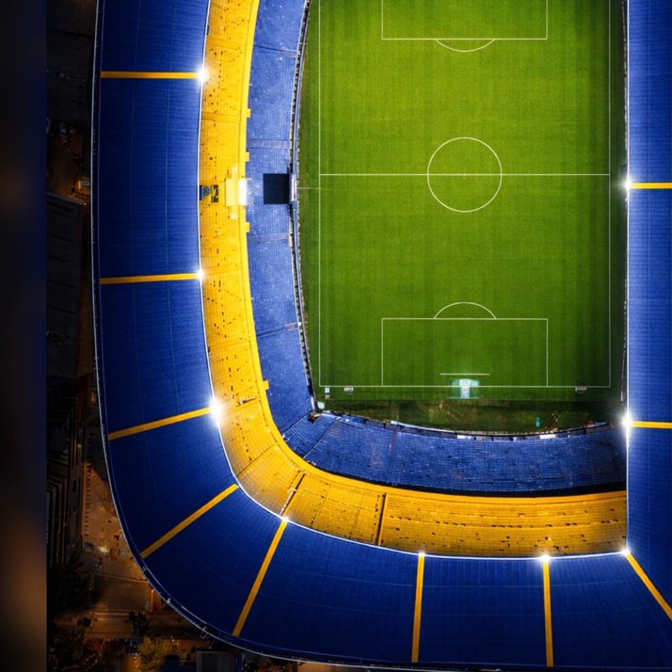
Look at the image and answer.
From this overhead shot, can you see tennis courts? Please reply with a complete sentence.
No, I can't see a single tennis court in this photo.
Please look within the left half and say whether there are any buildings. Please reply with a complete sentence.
Yes, a building shows up within the left half.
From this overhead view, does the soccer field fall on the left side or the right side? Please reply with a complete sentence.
It is on the right.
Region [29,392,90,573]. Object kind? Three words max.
house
